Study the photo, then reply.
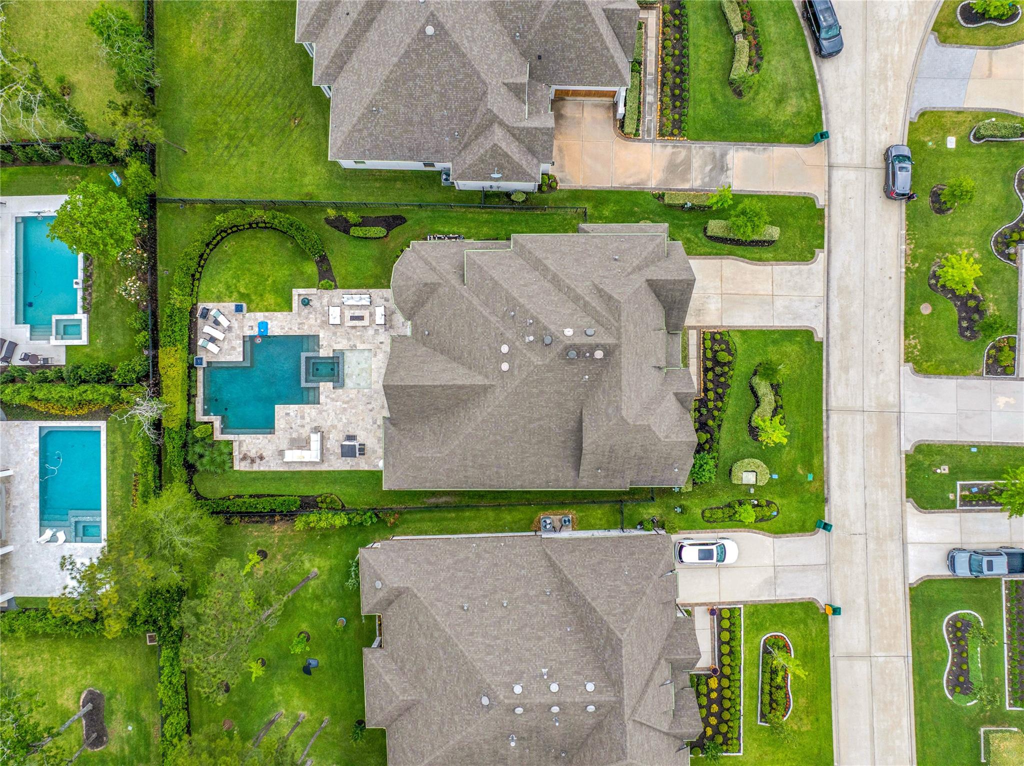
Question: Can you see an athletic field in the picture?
No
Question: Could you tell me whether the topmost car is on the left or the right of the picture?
right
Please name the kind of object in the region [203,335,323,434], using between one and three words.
swimming pool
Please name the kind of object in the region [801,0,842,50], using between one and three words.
car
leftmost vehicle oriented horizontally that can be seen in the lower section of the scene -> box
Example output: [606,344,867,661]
[678,540,736,568]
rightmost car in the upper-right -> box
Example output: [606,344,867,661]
[883,144,915,198]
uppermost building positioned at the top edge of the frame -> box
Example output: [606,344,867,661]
[294,0,640,189]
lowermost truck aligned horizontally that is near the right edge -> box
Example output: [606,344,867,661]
[947,550,1024,581]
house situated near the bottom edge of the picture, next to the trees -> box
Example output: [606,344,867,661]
[358,521,703,766]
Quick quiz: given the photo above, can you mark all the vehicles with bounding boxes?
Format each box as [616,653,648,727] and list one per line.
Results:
[678,540,736,568]
[883,144,915,198]
[801,0,842,50]
[947,550,1024,581]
